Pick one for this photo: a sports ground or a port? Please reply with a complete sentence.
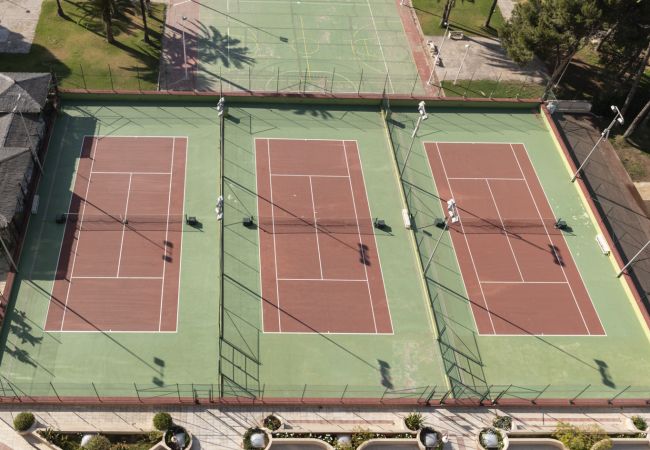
This image shows a sports ground.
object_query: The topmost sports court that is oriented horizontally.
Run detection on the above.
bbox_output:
[159,0,446,96]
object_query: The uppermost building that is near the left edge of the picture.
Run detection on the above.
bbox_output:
[0,72,54,135]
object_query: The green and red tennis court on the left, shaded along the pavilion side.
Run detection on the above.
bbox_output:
[0,100,220,396]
